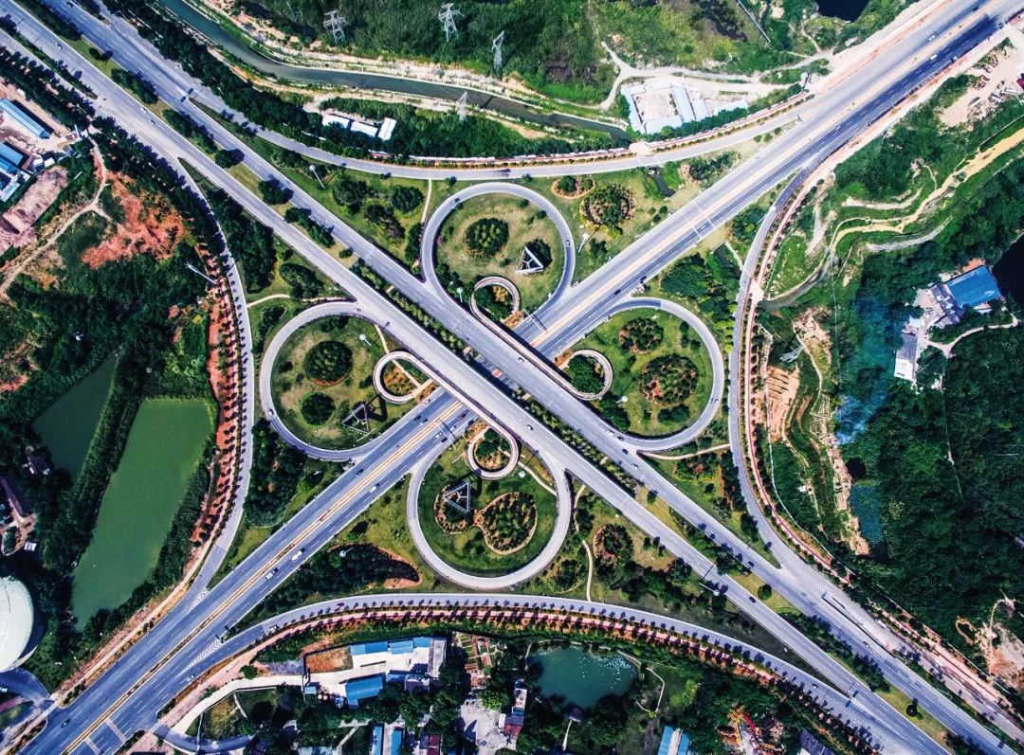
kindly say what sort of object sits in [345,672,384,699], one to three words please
building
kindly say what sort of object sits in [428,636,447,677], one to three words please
building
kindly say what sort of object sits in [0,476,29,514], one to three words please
house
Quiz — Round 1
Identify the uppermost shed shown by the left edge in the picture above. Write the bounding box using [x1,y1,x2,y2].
[2,98,54,142]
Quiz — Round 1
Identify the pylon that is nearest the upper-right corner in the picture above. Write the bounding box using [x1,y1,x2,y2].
[777,341,815,363]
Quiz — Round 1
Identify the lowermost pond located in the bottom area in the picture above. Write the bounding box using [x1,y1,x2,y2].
[529,646,635,708]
